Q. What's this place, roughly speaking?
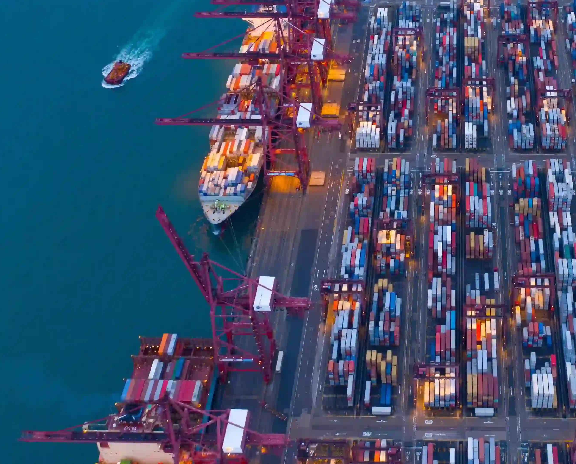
port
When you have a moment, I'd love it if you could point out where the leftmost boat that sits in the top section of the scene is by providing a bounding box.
[104,58,133,84]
